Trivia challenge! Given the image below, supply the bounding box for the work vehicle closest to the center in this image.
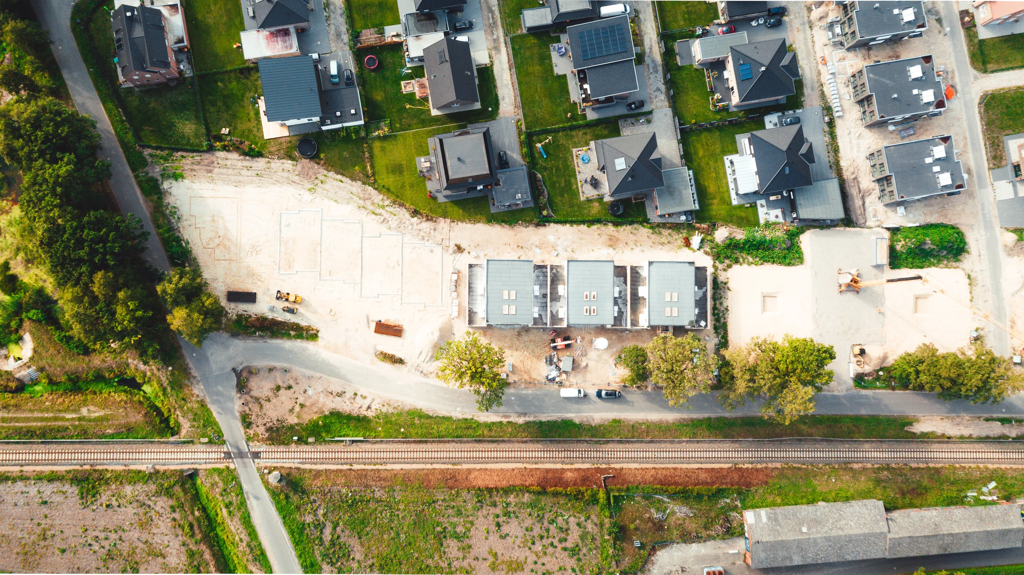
[550,336,583,350]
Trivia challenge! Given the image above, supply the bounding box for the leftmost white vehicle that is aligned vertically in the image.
[327,57,340,82]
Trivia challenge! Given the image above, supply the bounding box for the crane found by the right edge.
[837,268,1024,347]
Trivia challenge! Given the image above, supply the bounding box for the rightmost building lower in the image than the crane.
[883,503,1024,558]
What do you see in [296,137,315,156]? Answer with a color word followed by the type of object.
black trampoline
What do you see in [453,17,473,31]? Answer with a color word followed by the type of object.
black car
